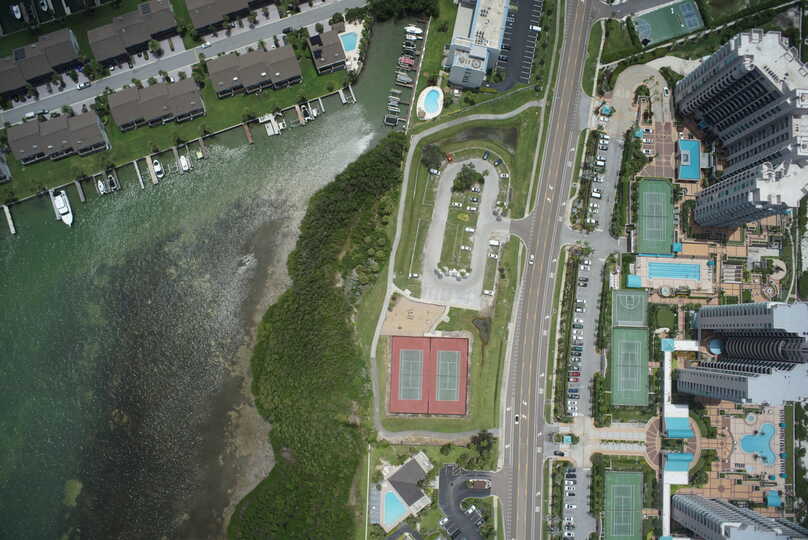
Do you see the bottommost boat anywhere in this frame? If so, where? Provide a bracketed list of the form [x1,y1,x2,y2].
[52,189,69,225]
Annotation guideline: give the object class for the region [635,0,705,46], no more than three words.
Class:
sports court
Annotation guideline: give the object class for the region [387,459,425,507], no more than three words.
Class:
house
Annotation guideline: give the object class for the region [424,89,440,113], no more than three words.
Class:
swimming pool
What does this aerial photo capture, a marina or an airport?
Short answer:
marina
